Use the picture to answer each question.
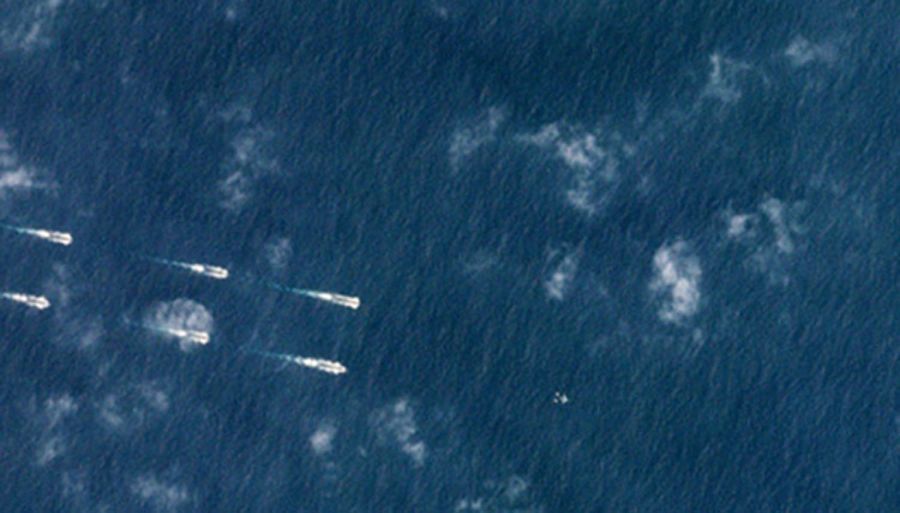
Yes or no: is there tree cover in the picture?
No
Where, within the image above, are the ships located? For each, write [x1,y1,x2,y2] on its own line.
[192,265,226,275]
[318,293,357,304]
[36,230,69,241]
[171,330,207,340]
[13,295,47,306]
[306,360,344,372]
